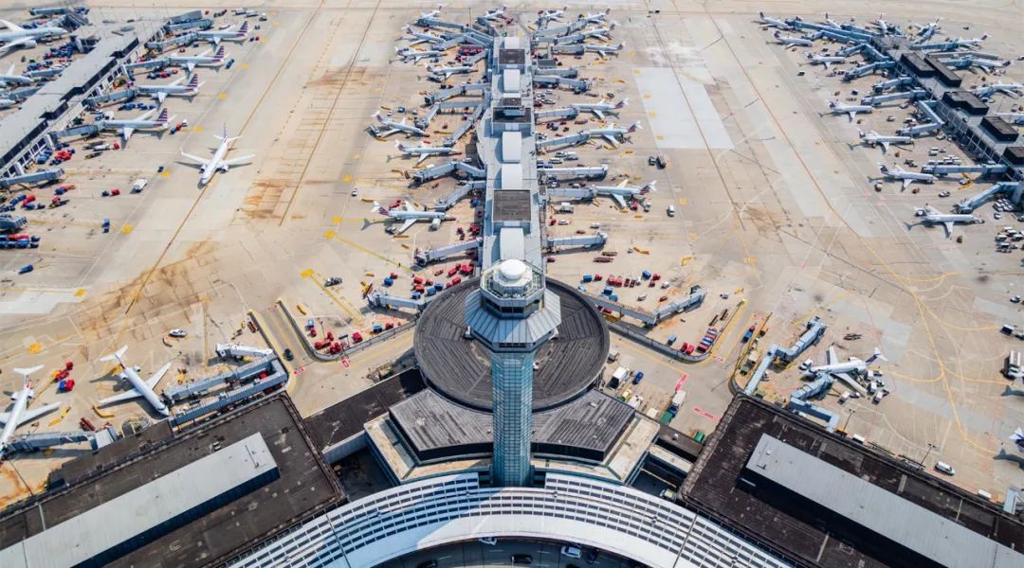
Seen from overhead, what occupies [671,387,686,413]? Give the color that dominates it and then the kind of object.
white vehicle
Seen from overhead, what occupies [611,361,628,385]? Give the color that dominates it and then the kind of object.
white vehicle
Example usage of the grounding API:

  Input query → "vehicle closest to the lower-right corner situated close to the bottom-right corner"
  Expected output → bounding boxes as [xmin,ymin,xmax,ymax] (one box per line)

[972,488,994,502]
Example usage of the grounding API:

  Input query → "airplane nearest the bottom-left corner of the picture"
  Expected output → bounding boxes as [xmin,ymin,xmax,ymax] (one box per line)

[0,374,54,458]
